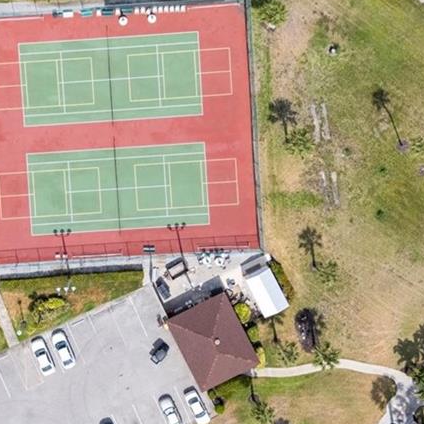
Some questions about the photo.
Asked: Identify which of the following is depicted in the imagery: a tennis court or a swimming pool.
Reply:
tennis court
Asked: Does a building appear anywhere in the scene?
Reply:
Yes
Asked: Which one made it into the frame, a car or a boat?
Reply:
car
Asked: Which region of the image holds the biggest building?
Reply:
bottom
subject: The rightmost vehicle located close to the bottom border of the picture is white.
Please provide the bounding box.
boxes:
[184,388,209,424]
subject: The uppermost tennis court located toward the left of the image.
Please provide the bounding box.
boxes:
[0,4,253,141]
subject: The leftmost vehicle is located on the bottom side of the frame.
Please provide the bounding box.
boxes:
[32,338,56,376]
